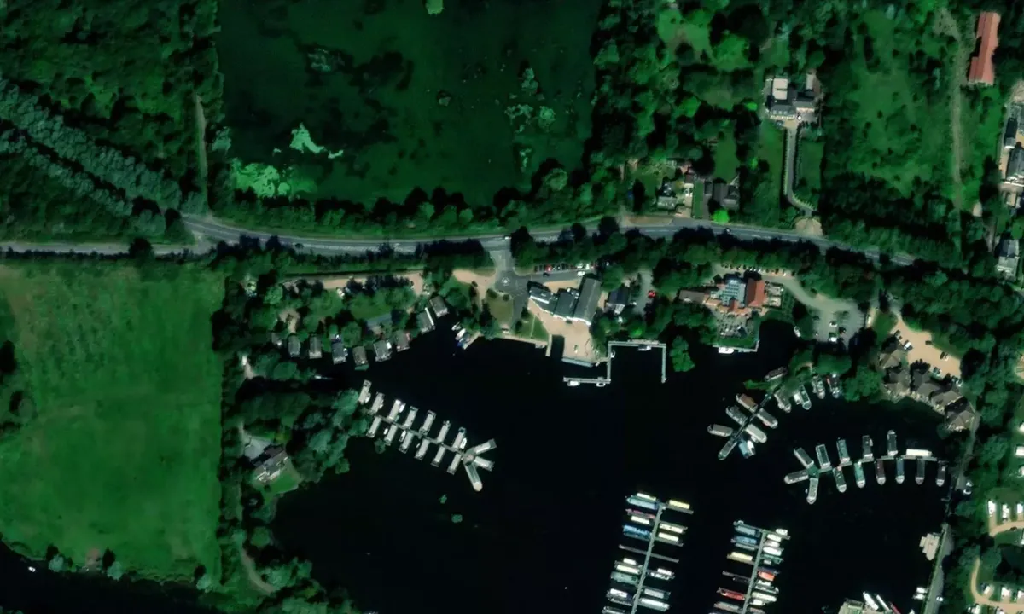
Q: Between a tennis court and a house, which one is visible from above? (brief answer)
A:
house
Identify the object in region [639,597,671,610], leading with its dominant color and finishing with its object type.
white boat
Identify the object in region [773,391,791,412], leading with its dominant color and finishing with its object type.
gray boat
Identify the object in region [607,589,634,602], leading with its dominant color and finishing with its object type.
white boat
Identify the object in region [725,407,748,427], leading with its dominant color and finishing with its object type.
gray boat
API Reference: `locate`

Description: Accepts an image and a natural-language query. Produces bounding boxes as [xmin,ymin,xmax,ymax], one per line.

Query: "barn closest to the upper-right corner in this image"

[968,11,999,86]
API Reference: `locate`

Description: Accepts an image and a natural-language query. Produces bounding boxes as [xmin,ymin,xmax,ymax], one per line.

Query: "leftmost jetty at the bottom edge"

[607,505,693,614]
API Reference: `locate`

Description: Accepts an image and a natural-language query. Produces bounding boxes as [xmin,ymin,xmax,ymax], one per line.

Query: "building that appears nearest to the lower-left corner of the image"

[252,444,294,488]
